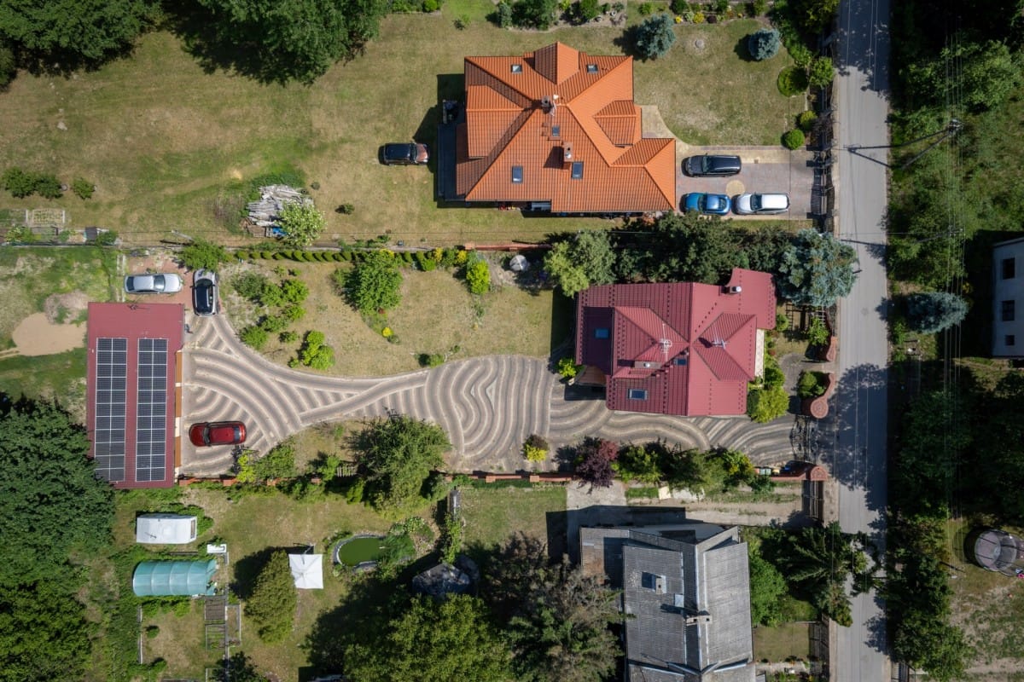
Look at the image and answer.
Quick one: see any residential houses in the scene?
Yes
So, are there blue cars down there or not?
Yes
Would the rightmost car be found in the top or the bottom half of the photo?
top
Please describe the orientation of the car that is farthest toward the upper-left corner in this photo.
horizontally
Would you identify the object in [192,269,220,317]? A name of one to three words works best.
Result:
car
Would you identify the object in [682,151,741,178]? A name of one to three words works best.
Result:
car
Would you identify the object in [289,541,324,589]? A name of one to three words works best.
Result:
umbrella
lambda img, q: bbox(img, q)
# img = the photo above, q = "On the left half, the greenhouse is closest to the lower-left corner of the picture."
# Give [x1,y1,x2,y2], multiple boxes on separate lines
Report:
[127,557,224,597]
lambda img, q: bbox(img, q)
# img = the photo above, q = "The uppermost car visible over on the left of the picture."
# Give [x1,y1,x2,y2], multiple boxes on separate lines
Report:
[381,140,429,166]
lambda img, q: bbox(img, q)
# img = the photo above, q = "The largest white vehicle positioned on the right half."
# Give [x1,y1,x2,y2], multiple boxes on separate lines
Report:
[733,191,790,216]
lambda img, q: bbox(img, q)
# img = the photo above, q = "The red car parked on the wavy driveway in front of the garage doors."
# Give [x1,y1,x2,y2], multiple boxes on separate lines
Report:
[192,421,248,447]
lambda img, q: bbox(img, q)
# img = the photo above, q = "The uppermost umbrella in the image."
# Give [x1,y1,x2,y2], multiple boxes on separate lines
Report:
[509,255,527,273]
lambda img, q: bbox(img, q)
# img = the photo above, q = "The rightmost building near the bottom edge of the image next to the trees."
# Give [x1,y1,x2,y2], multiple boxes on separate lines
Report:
[580,517,752,682]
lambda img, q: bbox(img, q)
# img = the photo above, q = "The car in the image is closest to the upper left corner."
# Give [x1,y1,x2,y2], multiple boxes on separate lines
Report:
[125,269,185,295]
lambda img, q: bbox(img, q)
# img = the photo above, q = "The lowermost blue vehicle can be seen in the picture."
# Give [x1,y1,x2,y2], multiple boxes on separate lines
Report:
[682,191,731,216]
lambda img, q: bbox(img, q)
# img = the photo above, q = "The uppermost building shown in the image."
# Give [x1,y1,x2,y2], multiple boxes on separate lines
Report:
[456,41,677,213]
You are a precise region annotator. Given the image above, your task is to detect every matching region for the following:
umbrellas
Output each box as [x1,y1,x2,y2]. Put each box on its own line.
[289,541,324,589]
[509,255,527,273]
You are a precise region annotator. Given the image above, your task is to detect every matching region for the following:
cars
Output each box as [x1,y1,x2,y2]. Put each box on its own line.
[381,140,429,166]
[125,269,185,295]
[192,269,220,317]
[682,191,731,216]
[682,151,741,178]
[733,191,790,216]
[192,421,248,447]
